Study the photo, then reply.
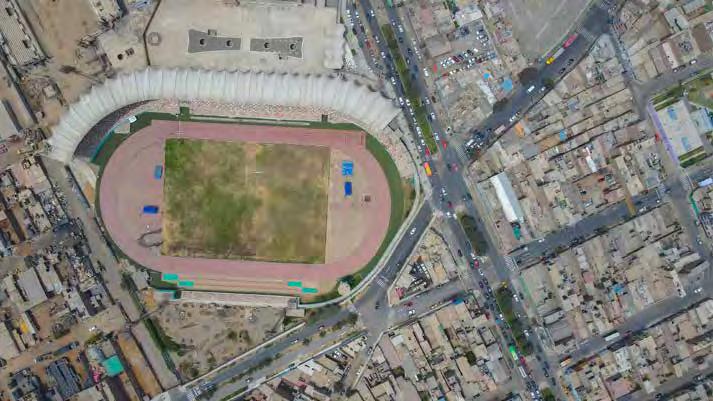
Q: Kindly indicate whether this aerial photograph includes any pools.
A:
No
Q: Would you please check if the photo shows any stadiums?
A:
Yes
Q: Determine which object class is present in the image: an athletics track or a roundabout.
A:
athletics track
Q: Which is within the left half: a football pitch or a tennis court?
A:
football pitch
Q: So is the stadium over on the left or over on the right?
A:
left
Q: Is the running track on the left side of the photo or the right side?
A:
left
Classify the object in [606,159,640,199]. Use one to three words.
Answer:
house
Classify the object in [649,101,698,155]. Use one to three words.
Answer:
building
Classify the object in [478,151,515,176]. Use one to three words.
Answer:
house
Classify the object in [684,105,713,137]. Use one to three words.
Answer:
building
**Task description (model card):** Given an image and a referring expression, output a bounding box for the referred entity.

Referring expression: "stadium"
[47,69,422,308]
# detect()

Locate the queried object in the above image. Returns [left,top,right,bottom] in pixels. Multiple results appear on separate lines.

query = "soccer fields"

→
[162,139,330,264]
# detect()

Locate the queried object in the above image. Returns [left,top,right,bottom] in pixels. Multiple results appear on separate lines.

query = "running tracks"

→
[99,121,391,297]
